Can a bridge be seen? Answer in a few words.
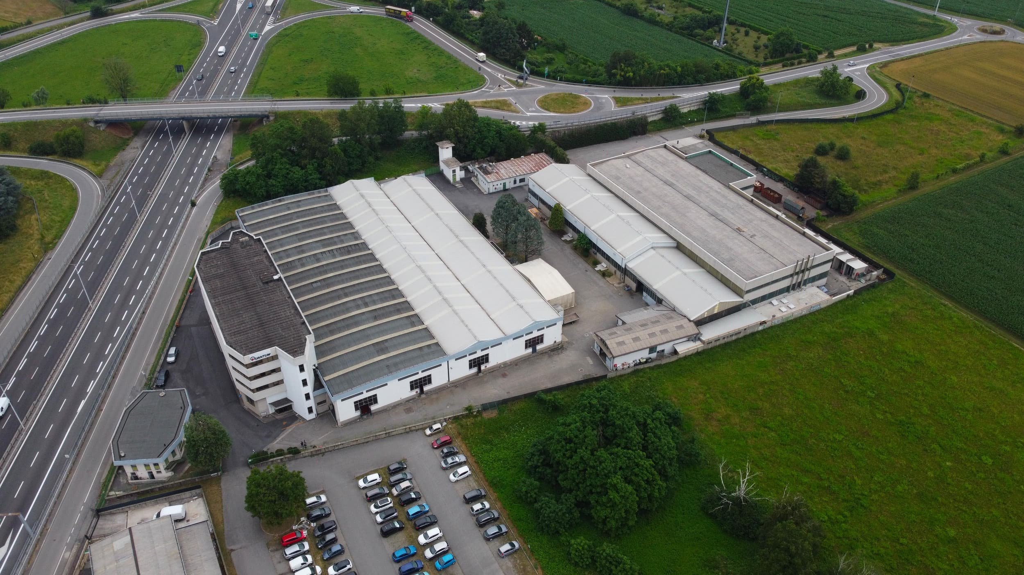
Yes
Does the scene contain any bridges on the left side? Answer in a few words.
Yes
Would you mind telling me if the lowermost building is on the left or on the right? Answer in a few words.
left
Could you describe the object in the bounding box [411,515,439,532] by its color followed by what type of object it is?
black car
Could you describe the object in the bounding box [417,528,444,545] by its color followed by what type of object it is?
white car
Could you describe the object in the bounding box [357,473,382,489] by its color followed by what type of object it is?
white car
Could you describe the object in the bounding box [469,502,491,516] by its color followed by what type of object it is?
gray car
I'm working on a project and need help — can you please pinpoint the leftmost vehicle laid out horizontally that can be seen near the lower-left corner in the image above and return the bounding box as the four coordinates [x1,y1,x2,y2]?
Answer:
[154,504,188,521]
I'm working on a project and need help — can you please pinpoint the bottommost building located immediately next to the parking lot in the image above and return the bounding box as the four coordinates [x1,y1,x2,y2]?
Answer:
[86,514,221,575]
